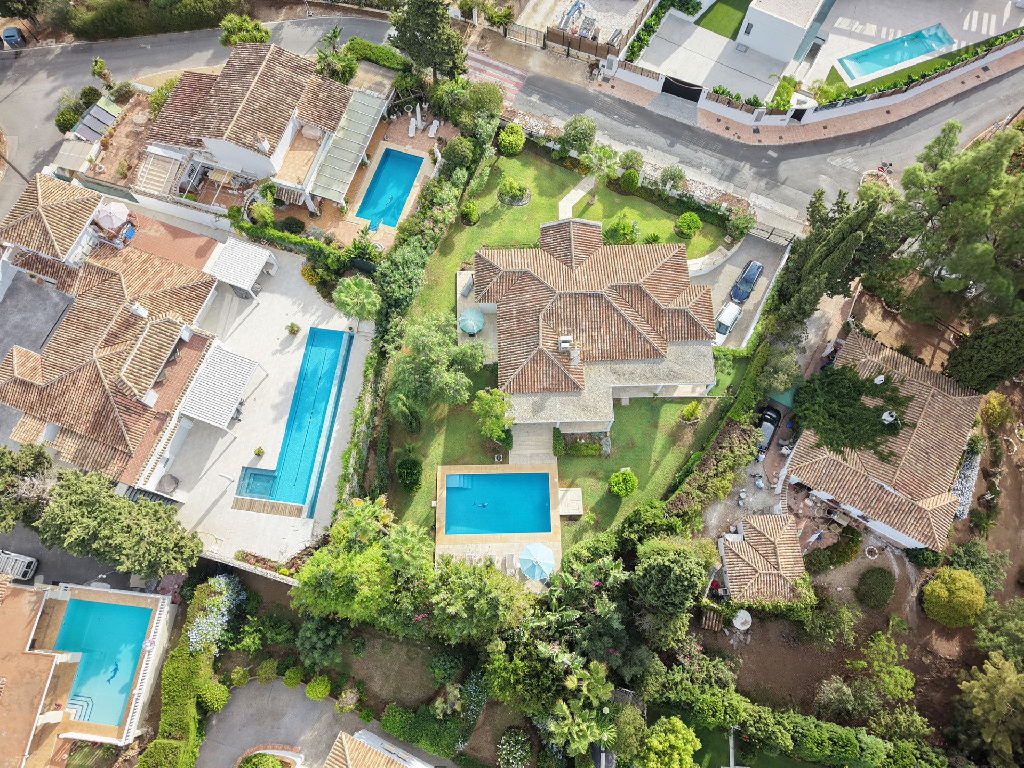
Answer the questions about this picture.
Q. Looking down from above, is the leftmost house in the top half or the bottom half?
bottom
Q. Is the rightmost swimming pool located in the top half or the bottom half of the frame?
top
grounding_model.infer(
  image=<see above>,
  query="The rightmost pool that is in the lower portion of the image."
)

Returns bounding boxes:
[436,463,561,545]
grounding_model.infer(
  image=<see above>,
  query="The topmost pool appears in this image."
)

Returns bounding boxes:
[829,20,962,88]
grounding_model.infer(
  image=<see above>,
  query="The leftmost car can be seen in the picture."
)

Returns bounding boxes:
[0,547,38,576]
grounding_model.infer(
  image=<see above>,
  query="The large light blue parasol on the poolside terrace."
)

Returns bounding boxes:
[519,544,555,580]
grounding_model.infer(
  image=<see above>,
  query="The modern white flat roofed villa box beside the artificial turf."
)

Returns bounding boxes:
[737,0,821,66]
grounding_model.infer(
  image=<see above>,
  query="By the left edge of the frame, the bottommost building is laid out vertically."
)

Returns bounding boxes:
[0,576,77,768]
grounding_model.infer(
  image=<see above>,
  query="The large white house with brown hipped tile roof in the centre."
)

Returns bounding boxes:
[473,214,717,434]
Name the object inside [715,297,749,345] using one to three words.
car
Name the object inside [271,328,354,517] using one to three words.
swimming pool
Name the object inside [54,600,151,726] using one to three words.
swimming pool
